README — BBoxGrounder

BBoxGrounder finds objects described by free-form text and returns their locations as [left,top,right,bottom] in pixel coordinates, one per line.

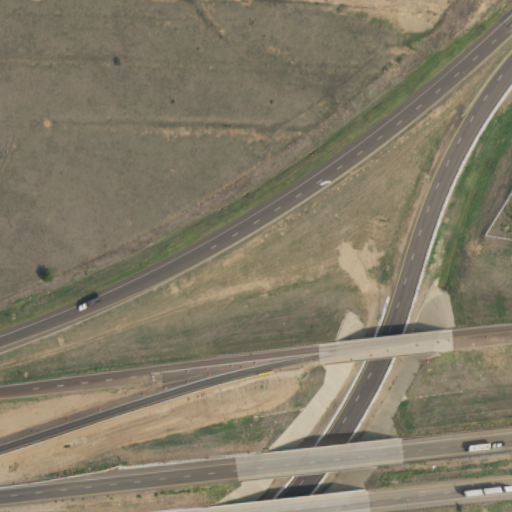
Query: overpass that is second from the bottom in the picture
[236,438,404,481]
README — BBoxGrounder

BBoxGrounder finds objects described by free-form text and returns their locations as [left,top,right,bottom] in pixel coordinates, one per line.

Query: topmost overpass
[320,329,454,363]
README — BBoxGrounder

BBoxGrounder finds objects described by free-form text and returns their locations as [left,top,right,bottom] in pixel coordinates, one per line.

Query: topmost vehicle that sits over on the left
[78,296,103,312]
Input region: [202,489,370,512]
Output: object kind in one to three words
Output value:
overpass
